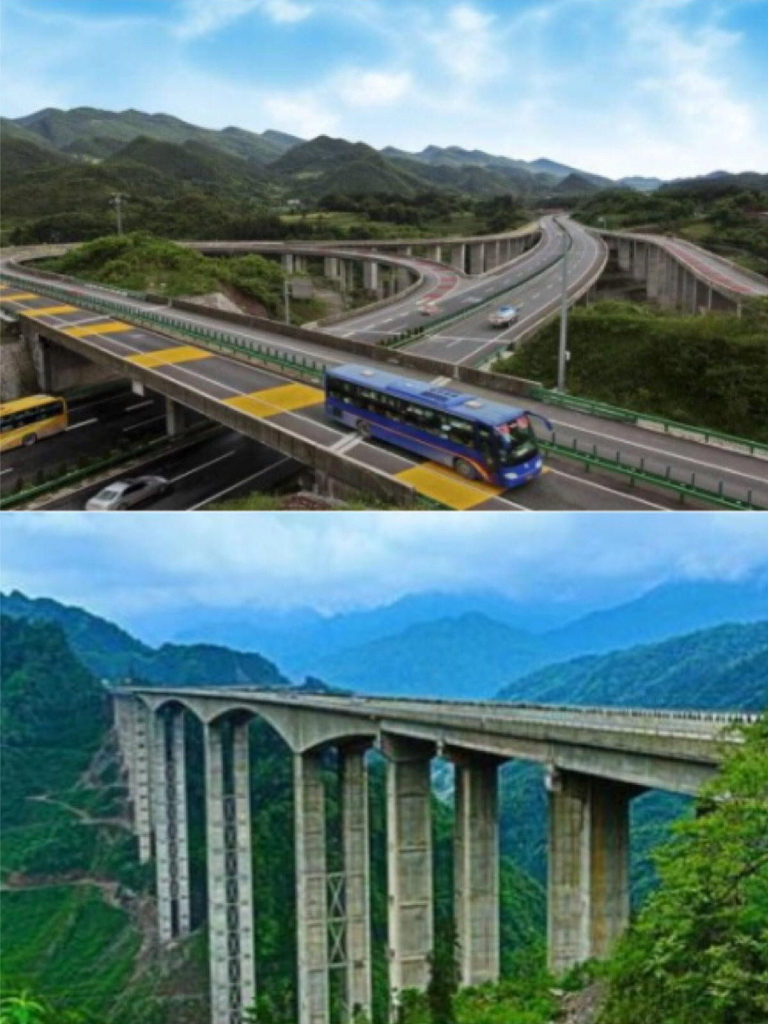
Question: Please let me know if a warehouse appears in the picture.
No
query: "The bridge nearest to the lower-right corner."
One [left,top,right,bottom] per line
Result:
[105,686,768,1024]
